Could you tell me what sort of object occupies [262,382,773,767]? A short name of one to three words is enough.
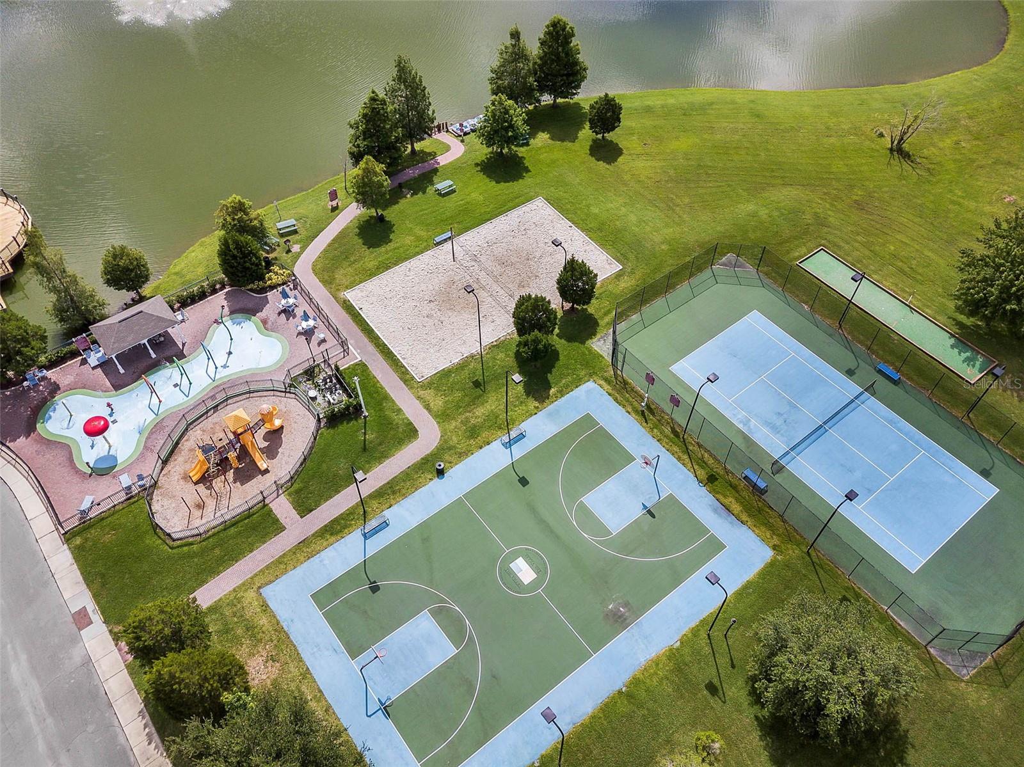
basketball court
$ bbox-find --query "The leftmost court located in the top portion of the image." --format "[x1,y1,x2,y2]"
[344,196,623,382]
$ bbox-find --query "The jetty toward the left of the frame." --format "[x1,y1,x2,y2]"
[0,190,34,312]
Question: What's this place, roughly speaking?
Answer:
sports ground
